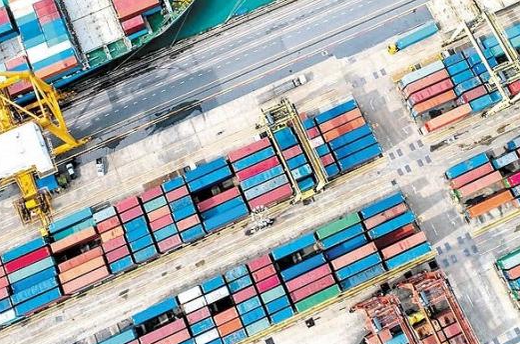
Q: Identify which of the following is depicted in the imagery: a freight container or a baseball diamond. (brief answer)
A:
freight container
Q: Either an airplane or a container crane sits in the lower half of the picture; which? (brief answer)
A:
container crane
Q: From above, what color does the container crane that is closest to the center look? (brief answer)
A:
white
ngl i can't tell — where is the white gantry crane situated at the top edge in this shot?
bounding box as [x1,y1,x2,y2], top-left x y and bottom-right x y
[440,7,520,117]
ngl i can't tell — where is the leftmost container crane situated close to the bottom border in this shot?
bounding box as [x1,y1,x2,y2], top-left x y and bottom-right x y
[349,282,423,344]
